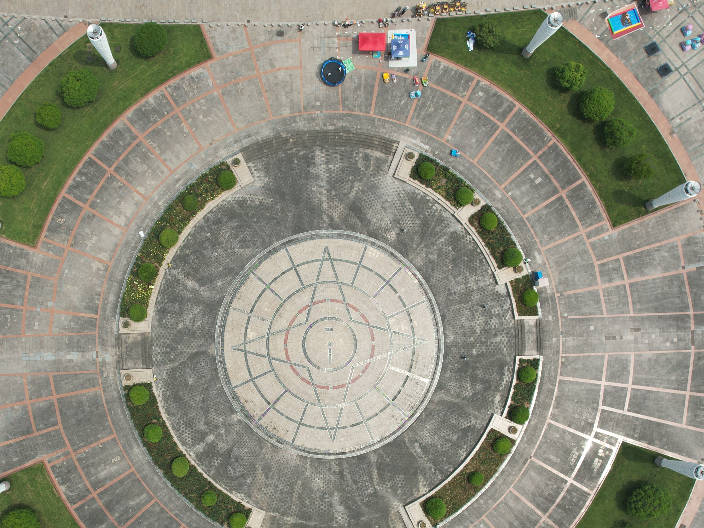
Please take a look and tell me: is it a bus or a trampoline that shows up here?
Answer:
trampoline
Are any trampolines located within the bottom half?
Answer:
No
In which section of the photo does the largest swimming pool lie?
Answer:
top right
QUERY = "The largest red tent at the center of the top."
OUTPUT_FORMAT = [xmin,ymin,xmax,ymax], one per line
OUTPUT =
[358,32,386,57]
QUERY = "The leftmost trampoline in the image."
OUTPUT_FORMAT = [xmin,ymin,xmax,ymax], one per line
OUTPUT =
[321,56,346,84]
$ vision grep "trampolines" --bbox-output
[645,41,661,58]
[658,57,673,79]
[321,56,346,84]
